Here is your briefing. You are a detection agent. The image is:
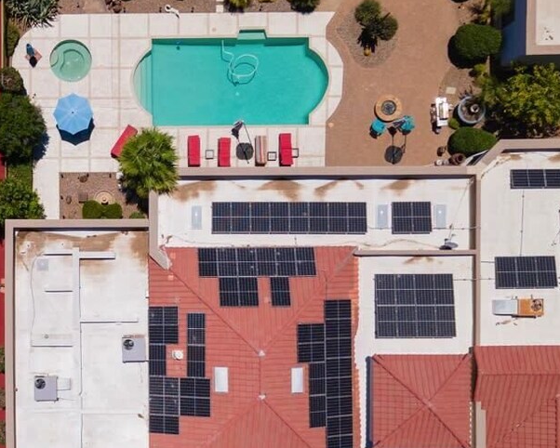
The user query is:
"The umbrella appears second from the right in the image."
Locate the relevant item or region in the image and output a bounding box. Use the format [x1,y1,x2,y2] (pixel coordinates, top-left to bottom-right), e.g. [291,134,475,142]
[232,120,254,160]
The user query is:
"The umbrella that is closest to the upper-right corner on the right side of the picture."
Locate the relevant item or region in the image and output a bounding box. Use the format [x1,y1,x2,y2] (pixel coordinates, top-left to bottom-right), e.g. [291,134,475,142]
[385,118,409,164]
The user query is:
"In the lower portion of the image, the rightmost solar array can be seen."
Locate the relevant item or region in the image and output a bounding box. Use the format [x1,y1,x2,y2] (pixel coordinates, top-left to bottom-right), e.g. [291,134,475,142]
[494,257,558,288]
